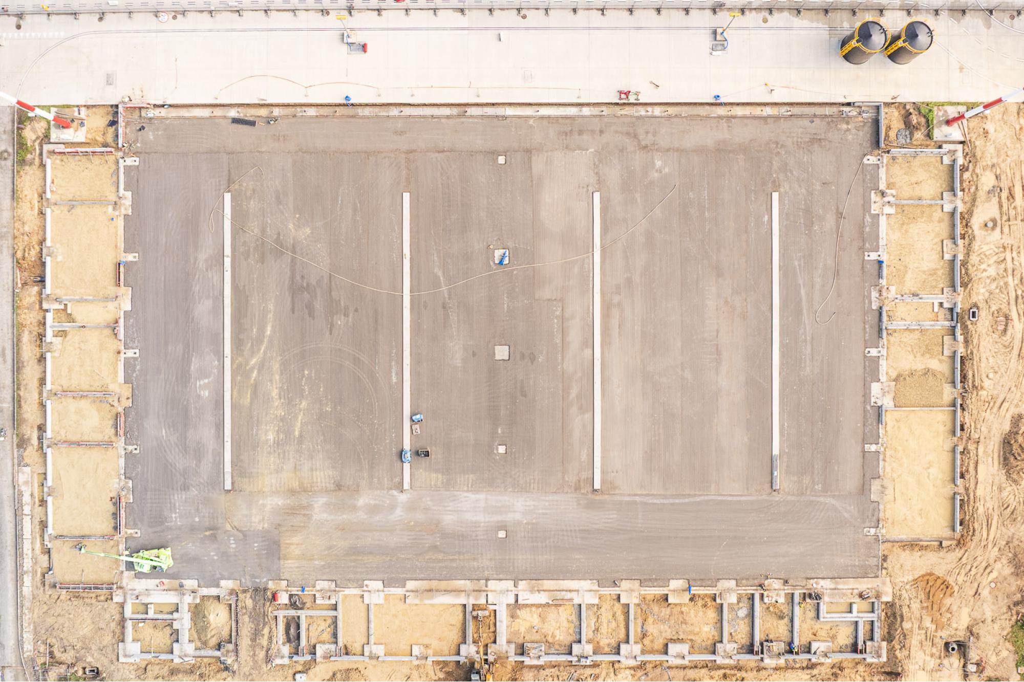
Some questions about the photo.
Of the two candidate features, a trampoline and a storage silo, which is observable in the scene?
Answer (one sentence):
Of the two, only a storage silo appears.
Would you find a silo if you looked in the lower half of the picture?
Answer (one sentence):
No, no silo appears in the lower half of the picture.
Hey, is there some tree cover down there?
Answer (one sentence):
No, no tree cover is visible.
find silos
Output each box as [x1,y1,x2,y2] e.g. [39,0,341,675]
[840,15,894,64]
[885,15,941,64]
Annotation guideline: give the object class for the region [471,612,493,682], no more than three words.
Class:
work vehicle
